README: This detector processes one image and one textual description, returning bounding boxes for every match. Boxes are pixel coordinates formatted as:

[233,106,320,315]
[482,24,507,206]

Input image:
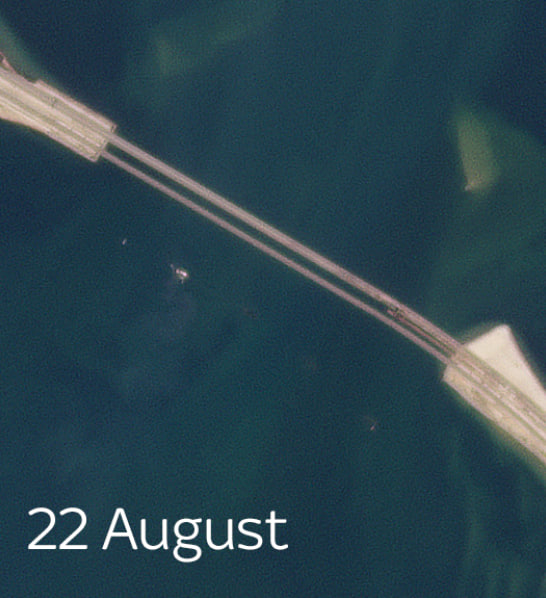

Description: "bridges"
[108,133,462,352]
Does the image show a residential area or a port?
port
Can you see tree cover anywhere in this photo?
No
